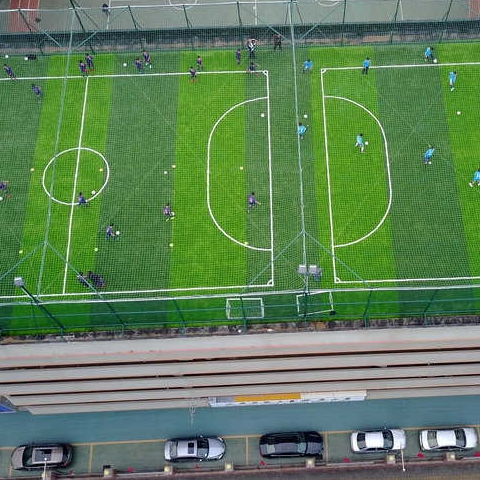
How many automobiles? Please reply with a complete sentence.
In total, 5 automobiles can be seen.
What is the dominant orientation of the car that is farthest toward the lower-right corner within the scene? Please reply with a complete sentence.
From this overhead view, the car that is farthest toward the lower-right corner appears to run from side to side.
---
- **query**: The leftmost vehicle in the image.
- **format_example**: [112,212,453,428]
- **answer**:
[11,442,74,473]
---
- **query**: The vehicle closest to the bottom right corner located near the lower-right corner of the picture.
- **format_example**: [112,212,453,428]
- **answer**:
[418,424,478,454]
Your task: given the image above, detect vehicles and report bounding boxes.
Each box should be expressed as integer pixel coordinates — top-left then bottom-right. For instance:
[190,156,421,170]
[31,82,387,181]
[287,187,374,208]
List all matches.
[258,429,325,460]
[418,424,478,454]
[11,442,74,473]
[164,433,227,463]
[350,425,406,455]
